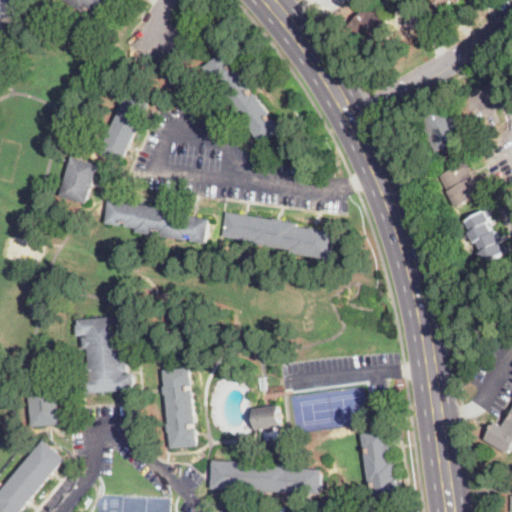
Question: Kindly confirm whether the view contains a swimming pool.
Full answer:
Yes, a swimming pool appears in the view.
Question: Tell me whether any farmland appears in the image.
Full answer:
No, there is no farmland in the image.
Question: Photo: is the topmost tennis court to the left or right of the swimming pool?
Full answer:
In the image, the topmost tennis court sits on the right side of the swimming pool.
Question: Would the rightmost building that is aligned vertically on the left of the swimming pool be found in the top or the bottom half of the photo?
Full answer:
You can find the rightmost building that is aligned vertically on the left of the swimming pool in the bottom half.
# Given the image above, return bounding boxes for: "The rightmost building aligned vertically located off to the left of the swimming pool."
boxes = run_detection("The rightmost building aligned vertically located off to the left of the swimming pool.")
[161,369,196,448]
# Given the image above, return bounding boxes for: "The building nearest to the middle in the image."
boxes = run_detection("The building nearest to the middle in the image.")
[222,213,328,259]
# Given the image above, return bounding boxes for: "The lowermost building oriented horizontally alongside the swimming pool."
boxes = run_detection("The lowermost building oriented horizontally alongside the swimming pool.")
[209,460,321,496]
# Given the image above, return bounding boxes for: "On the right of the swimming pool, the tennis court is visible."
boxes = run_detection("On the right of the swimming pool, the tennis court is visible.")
[290,386,370,432]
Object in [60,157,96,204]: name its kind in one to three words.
house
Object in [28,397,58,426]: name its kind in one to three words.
house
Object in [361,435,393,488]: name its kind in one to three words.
building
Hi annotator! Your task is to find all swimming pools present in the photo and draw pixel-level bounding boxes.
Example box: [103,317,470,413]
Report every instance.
[211,379,252,435]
